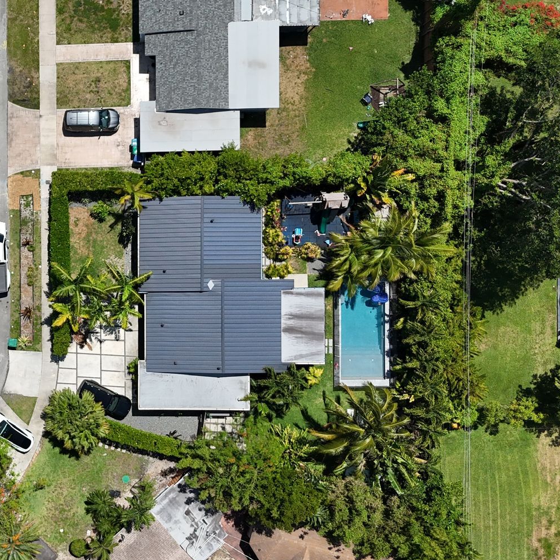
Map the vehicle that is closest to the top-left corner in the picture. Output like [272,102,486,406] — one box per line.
[62,107,120,136]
